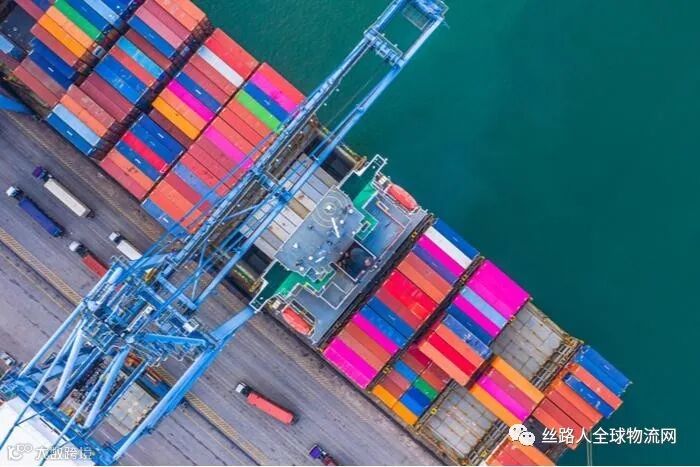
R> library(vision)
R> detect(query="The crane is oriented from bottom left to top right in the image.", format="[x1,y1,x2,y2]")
[0,0,458,467]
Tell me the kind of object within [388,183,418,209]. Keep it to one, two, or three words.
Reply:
boat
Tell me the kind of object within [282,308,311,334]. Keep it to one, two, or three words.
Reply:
boat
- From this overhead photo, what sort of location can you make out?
port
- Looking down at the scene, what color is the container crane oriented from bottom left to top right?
blue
